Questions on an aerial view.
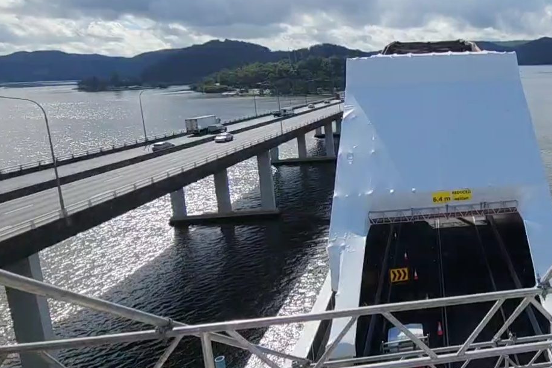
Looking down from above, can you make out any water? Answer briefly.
Yes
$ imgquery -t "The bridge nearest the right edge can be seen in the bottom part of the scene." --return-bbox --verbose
[367,218,552,368]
